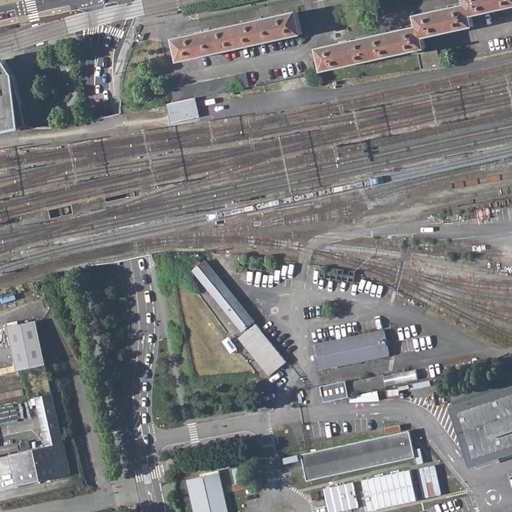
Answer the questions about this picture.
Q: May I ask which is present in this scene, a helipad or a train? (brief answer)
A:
train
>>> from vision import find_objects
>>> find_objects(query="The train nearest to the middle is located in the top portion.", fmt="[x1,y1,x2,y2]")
[208,179,385,218]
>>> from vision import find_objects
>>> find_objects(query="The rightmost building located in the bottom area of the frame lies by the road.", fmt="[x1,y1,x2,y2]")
[448,388,512,468]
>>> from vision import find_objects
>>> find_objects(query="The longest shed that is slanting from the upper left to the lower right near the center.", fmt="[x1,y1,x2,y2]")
[192,260,255,332]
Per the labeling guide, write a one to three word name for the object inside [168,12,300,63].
building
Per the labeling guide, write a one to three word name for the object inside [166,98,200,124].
shed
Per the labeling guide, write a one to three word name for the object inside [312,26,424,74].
building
